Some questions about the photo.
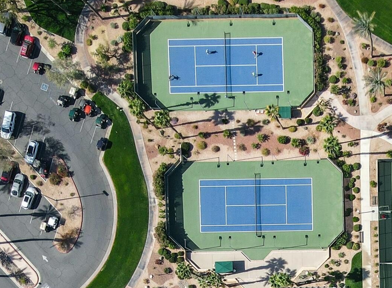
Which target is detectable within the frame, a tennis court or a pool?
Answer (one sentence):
The image shows a tennis court.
